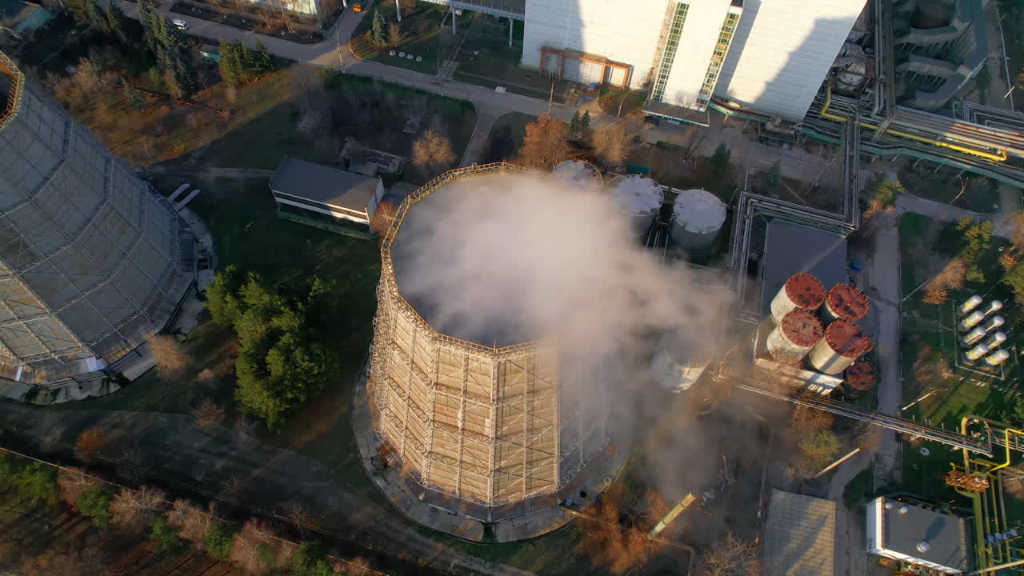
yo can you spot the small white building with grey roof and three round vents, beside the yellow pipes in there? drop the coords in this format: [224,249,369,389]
[871,488,974,575]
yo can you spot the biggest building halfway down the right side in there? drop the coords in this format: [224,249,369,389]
[755,218,847,327]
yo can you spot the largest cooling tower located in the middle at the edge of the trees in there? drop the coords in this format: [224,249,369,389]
[346,150,646,542]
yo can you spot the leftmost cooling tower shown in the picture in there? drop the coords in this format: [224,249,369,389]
[0,49,216,408]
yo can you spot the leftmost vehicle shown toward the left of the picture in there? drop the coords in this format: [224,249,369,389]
[169,16,187,28]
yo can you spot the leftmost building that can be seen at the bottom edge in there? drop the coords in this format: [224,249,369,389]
[757,489,838,576]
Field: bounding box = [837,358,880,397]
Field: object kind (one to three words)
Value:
storage tank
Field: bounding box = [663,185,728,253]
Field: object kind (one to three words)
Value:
storage tank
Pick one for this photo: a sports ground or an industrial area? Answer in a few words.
industrial area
